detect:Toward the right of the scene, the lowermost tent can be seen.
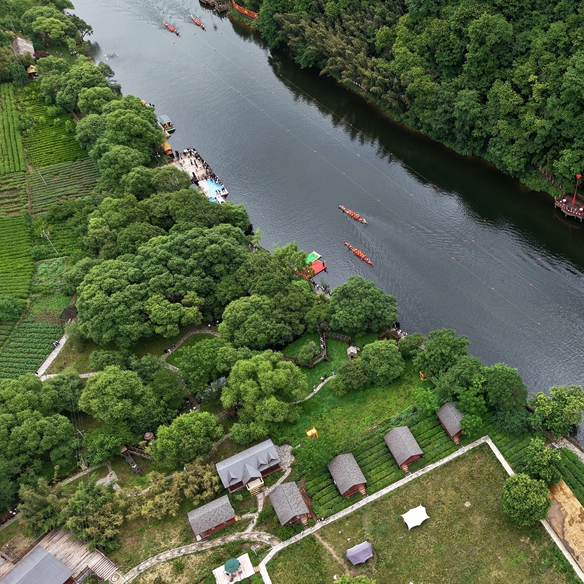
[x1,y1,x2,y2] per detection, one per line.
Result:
[346,541,376,568]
